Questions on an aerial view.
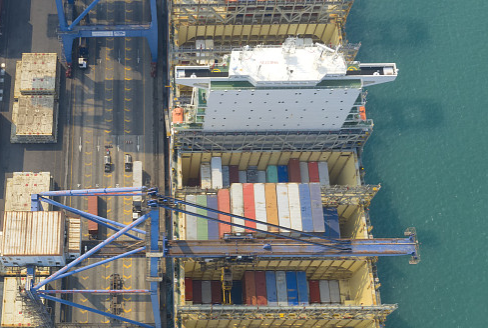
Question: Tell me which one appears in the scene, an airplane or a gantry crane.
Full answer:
Looking from above, you can make out a gantry crane.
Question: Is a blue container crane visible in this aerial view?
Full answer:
Yes, the image includes a blue container crane.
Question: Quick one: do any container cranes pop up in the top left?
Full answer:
Yes, a container crane can be seen in the top left.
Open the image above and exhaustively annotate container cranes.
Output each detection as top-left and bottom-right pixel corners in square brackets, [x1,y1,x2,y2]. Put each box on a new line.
[0,173,433,328]
[53,0,157,77]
